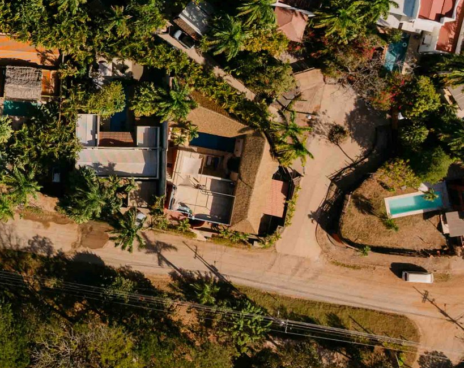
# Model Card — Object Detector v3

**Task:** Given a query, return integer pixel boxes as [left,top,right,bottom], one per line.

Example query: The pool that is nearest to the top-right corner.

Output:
[380,33,410,74]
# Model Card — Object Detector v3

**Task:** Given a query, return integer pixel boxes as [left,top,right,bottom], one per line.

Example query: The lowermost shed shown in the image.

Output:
[433,209,464,239]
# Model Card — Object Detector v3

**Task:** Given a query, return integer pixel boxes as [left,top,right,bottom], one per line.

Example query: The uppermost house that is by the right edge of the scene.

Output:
[366,0,464,56]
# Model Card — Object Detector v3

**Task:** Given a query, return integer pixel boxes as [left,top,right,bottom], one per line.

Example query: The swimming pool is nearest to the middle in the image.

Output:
[186,134,237,156]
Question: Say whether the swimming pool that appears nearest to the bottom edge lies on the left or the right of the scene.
right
